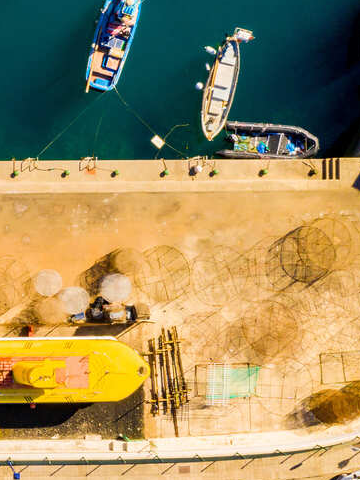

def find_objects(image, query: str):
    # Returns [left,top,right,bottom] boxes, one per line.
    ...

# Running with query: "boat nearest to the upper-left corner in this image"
[85,0,143,94]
